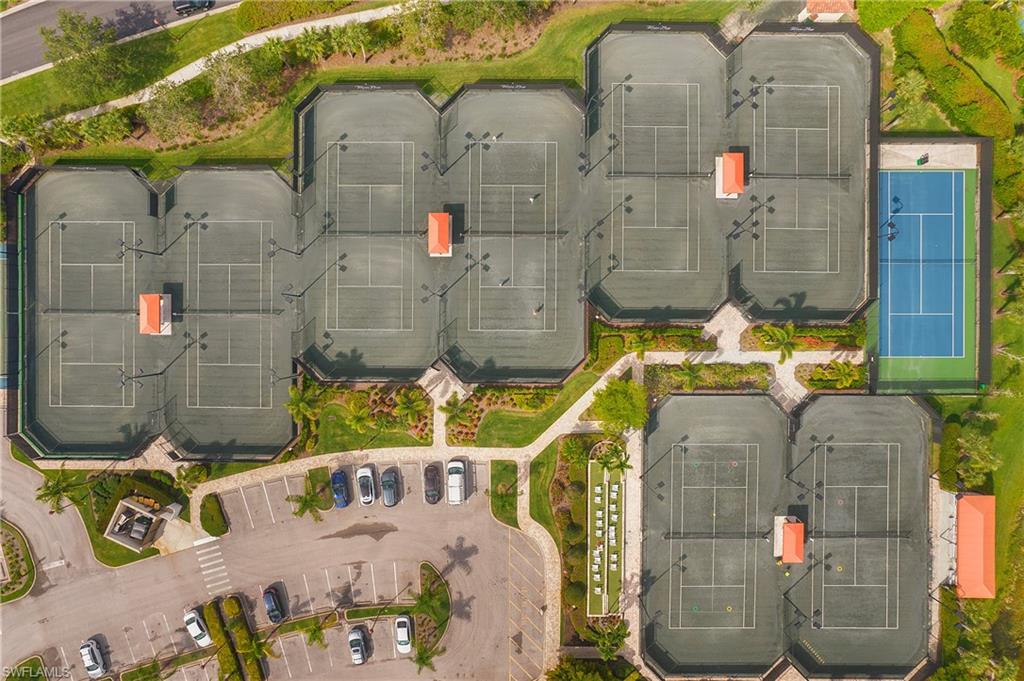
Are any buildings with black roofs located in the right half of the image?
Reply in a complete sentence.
No, there's no building with a black roof to be seen in the right half of the image.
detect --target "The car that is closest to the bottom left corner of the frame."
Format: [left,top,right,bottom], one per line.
[78,639,105,677]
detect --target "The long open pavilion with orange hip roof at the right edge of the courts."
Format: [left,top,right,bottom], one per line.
[942,490,995,598]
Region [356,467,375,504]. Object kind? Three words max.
car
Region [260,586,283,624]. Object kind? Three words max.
car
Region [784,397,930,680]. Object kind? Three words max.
tennis court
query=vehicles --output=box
[260,586,283,624]
[330,469,349,508]
[348,627,367,666]
[395,616,413,653]
[78,639,105,677]
[356,467,375,504]
[447,461,465,505]
[182,610,209,647]
[379,468,398,506]
[176,0,213,15]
